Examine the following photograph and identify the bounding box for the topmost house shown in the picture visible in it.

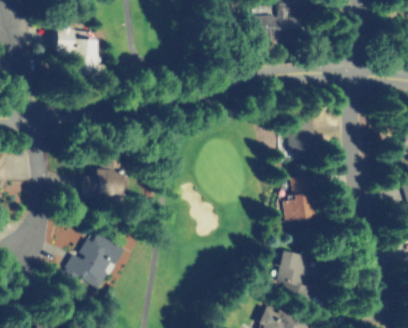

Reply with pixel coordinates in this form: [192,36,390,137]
[251,1,300,35]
